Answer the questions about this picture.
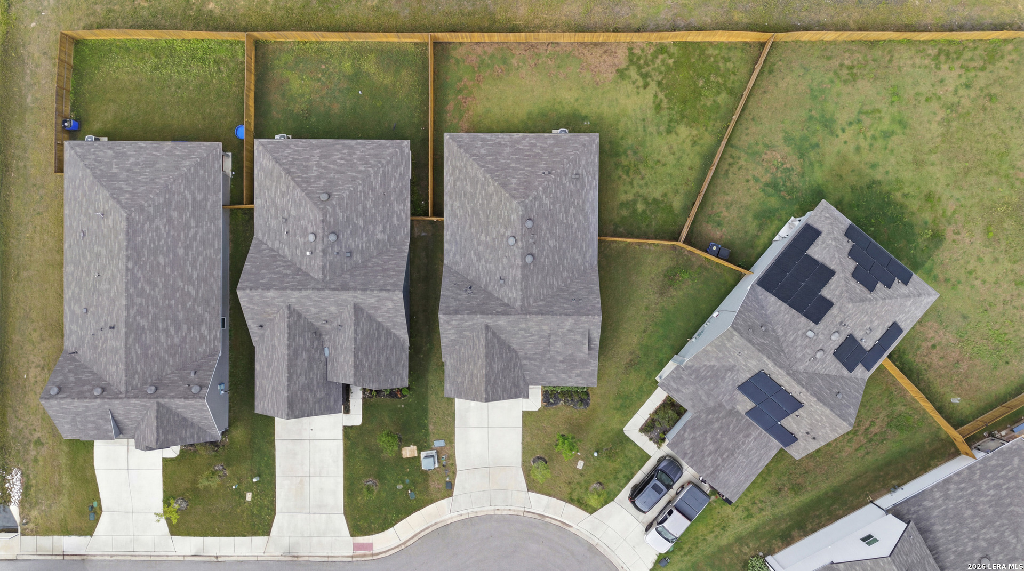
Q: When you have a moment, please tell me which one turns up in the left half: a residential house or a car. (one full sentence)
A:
You can see a residential house in the left half.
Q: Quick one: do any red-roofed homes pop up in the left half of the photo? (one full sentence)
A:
No, I can find no red-roofed home in the left half of the photo.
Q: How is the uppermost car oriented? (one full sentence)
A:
The uppermost car has been laid out at an angle relative to the frame.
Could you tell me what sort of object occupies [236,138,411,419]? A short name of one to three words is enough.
house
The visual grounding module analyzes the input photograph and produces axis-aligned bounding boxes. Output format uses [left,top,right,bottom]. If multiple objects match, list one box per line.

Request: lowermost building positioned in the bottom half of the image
[767,435,1024,571]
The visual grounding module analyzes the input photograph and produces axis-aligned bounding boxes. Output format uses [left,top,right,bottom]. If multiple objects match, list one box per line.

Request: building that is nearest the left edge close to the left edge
[40,140,232,451]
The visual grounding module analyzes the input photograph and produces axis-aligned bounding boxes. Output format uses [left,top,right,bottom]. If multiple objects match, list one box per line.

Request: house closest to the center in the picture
[438,132,602,402]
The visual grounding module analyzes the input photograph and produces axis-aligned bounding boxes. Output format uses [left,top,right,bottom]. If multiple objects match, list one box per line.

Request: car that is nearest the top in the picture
[626,454,683,512]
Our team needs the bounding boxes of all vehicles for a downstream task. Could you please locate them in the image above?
[626,454,683,512]
[643,482,708,553]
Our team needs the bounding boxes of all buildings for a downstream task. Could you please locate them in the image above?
[658,199,940,503]
[767,435,1024,571]
[236,138,411,419]
[40,140,232,451]
[438,132,602,402]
